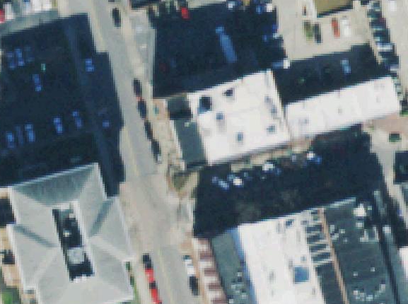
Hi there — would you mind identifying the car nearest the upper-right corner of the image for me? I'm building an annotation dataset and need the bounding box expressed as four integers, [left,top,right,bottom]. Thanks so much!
[386,0,399,18]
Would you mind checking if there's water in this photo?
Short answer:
No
